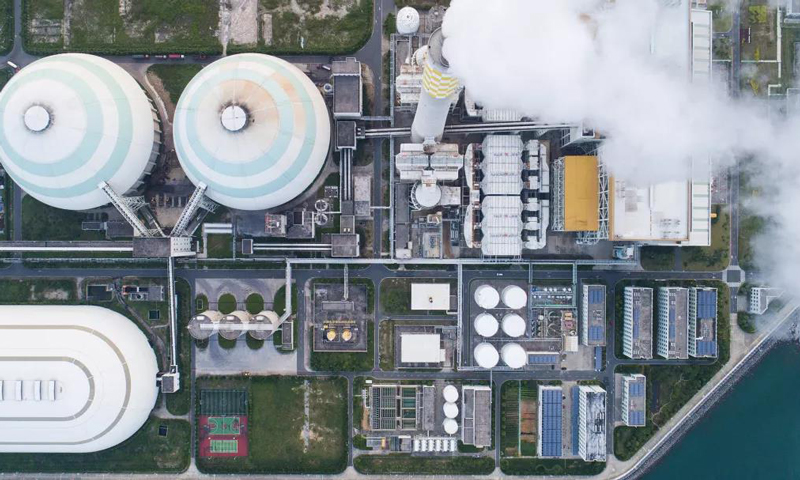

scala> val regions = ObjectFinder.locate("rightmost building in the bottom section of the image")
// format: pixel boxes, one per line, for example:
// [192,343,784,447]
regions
[750,286,787,314]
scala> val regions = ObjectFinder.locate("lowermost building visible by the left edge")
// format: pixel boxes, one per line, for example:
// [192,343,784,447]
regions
[0,304,162,453]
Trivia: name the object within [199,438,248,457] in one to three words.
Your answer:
sports court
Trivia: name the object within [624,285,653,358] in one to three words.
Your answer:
building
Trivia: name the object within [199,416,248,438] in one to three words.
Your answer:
basketball court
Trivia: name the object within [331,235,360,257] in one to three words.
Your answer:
house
